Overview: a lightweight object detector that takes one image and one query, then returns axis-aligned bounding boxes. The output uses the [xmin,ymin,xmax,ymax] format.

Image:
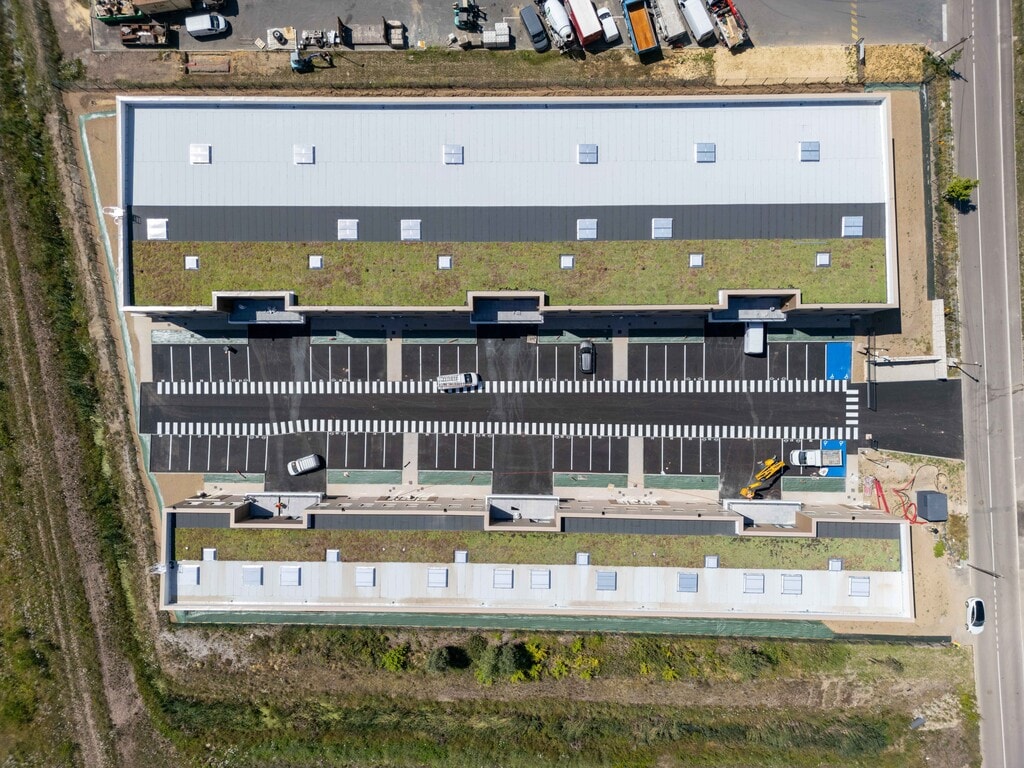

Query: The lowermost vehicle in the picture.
[964,597,986,633]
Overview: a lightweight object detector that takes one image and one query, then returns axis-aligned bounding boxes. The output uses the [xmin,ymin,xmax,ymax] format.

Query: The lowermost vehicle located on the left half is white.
[286,452,324,477]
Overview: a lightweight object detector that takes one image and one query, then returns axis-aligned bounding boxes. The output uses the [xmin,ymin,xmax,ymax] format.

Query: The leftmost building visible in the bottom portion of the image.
[142,491,916,622]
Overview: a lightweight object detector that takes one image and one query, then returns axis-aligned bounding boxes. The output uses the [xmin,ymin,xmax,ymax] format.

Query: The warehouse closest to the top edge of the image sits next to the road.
[100,92,899,324]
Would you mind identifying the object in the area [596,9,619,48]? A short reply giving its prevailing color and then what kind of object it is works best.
white vehicle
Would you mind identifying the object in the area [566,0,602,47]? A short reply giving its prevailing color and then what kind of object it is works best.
white truck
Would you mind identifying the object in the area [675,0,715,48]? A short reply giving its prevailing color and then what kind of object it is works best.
white truck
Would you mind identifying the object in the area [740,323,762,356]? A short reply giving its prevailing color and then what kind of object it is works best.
white vehicle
